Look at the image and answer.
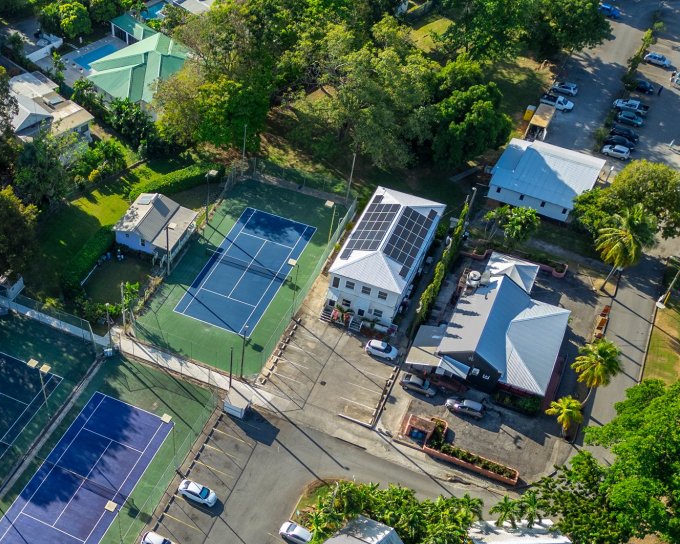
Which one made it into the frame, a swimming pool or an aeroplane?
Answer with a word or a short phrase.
swimming pool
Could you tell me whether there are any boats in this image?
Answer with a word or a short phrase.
No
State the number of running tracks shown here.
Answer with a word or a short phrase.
none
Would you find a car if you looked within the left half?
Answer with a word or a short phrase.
Yes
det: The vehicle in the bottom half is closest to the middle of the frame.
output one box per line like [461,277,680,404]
[365,338,400,361]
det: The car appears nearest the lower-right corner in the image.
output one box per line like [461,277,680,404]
[446,395,485,418]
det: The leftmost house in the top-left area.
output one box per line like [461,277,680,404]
[0,72,94,147]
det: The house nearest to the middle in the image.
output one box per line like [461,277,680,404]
[323,186,446,325]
